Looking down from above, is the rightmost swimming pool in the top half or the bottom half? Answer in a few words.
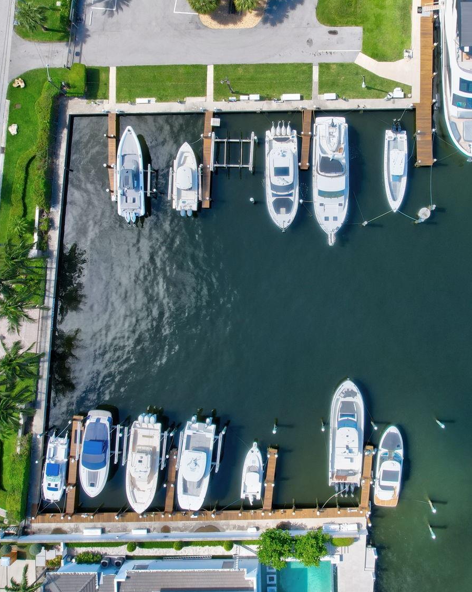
bottom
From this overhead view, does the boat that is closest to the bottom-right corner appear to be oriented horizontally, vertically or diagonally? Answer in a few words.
vertically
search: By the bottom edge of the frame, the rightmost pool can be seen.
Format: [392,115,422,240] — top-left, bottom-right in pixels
[276,560,332,592]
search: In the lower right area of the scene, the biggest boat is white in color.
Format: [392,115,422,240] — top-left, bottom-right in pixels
[329,376,364,496]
